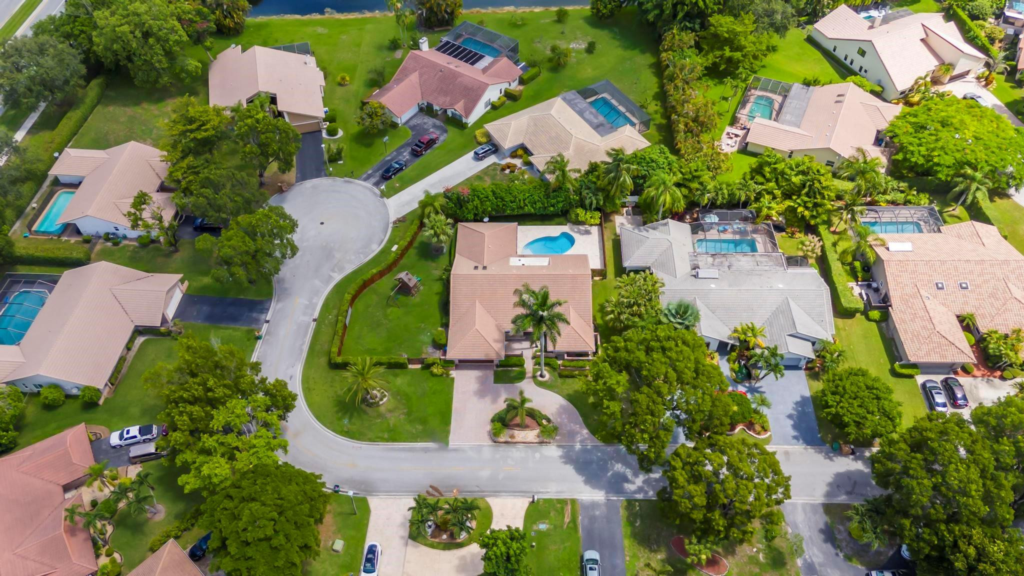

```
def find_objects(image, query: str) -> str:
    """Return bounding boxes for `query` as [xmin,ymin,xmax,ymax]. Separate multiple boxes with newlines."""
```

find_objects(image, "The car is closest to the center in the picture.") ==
[472,144,498,160]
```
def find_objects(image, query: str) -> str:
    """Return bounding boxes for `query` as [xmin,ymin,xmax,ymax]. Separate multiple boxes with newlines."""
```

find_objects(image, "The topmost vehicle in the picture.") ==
[962,93,990,108]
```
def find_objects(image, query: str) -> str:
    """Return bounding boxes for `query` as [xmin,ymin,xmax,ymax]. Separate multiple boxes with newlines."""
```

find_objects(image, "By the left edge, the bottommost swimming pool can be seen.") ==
[0,288,51,345]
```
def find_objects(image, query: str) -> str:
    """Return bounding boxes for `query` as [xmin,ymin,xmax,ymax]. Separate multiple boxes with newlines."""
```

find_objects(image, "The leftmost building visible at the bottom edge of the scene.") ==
[0,422,99,576]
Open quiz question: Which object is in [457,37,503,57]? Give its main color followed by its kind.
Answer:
blue swimming pool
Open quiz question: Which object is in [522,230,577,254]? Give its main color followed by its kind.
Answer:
blue swimming pool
